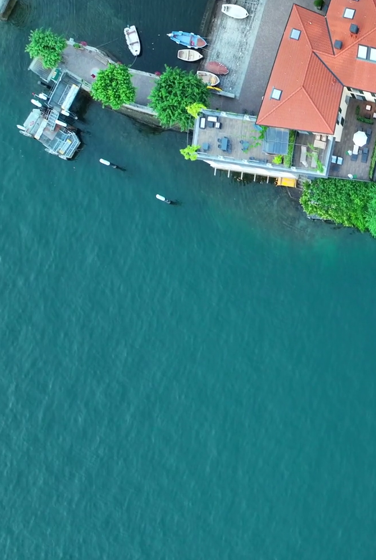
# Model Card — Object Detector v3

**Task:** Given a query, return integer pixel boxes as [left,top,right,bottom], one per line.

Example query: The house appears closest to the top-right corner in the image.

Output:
[255,0,376,142]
